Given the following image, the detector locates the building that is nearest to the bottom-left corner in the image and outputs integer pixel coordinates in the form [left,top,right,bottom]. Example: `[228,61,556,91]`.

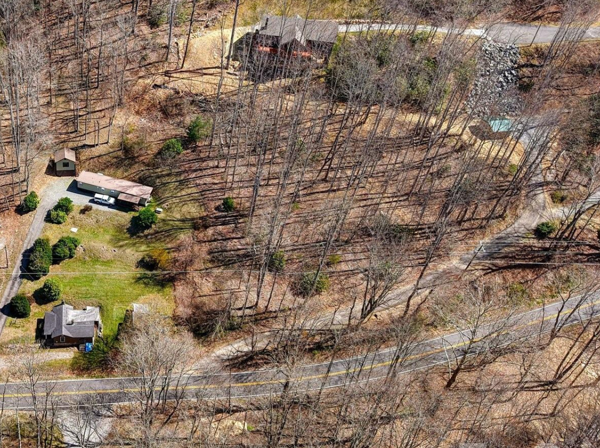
[42,302,101,347]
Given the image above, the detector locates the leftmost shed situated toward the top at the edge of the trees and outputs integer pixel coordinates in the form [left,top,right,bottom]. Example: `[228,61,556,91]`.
[54,145,80,176]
